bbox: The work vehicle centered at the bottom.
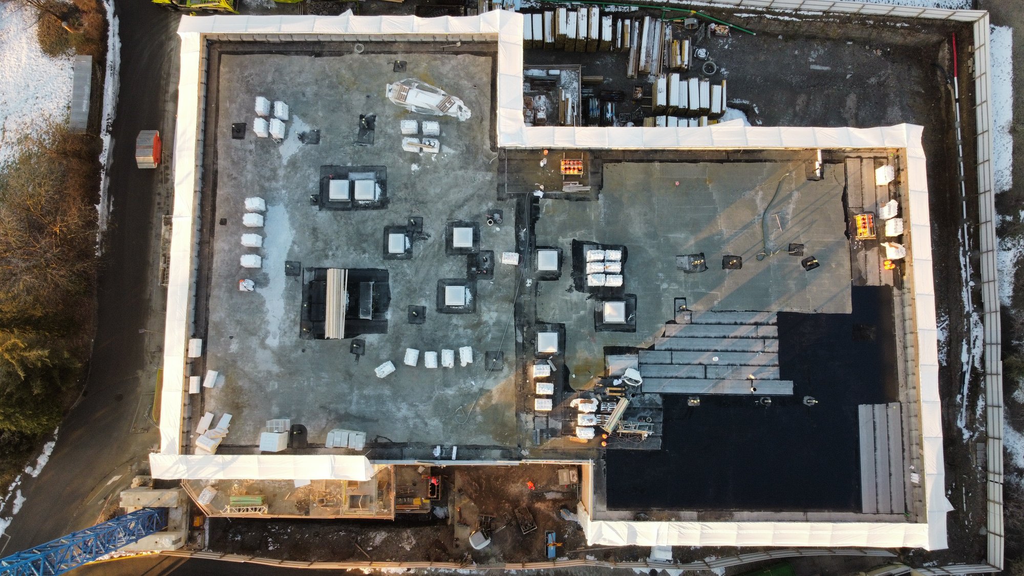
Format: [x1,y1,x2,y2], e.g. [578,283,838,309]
[468,510,502,554]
